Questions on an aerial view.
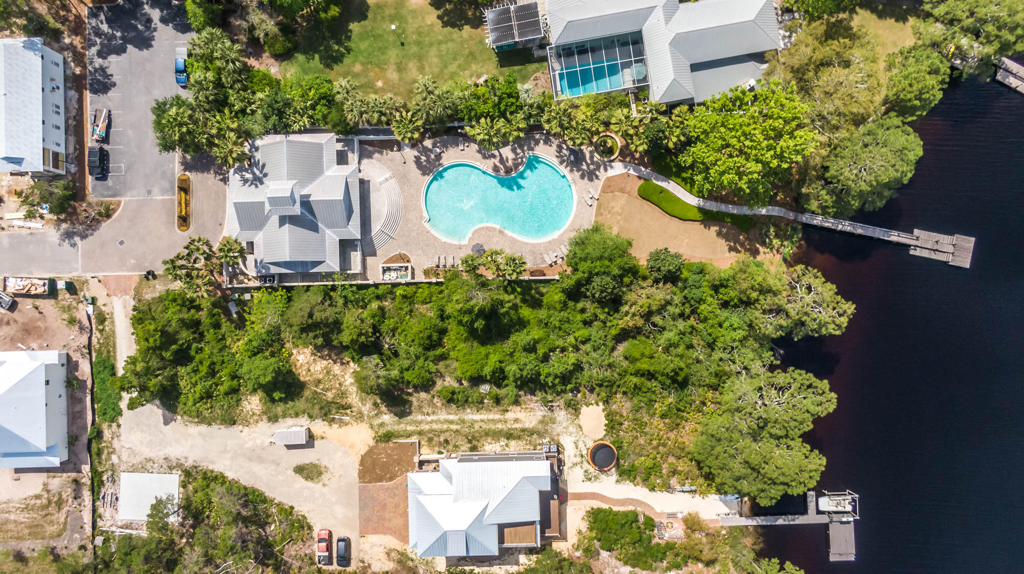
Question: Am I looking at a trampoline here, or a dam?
trampoline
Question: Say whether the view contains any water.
Yes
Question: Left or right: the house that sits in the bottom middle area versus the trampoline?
on the left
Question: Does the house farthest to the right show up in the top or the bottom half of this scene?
top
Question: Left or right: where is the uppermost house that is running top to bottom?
left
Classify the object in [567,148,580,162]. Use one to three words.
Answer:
umbrella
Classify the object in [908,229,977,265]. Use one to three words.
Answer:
pier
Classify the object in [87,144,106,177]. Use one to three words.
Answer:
car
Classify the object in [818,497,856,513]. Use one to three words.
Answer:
boat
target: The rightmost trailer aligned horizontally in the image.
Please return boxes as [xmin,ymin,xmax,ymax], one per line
[271,426,311,445]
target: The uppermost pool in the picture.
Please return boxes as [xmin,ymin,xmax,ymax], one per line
[557,60,629,97]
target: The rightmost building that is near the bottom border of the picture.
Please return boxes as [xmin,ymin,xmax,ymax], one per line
[407,452,560,559]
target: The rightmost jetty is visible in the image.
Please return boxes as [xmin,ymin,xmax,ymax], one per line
[990,57,1024,94]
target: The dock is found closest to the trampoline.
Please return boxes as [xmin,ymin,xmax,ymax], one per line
[720,491,858,561]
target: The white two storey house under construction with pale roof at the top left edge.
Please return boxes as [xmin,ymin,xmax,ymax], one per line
[0,34,64,175]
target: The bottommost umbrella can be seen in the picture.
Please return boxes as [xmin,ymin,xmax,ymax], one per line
[471,242,485,257]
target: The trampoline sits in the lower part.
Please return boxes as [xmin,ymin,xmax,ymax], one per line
[588,441,617,474]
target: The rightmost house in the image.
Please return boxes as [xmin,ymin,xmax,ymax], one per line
[545,0,779,102]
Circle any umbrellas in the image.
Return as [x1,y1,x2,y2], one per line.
[628,61,648,81]
[567,148,580,162]
[471,242,485,257]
